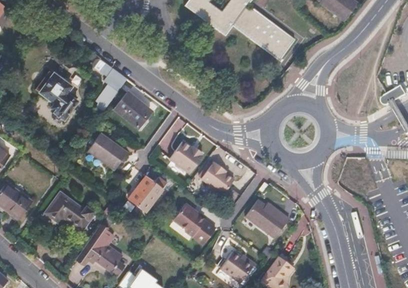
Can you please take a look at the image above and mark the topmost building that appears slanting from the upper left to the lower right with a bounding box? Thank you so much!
[233,8,296,62]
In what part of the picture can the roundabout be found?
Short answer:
right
